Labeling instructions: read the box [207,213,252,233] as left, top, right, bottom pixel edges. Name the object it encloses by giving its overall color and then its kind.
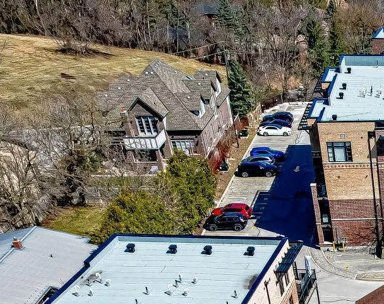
black car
